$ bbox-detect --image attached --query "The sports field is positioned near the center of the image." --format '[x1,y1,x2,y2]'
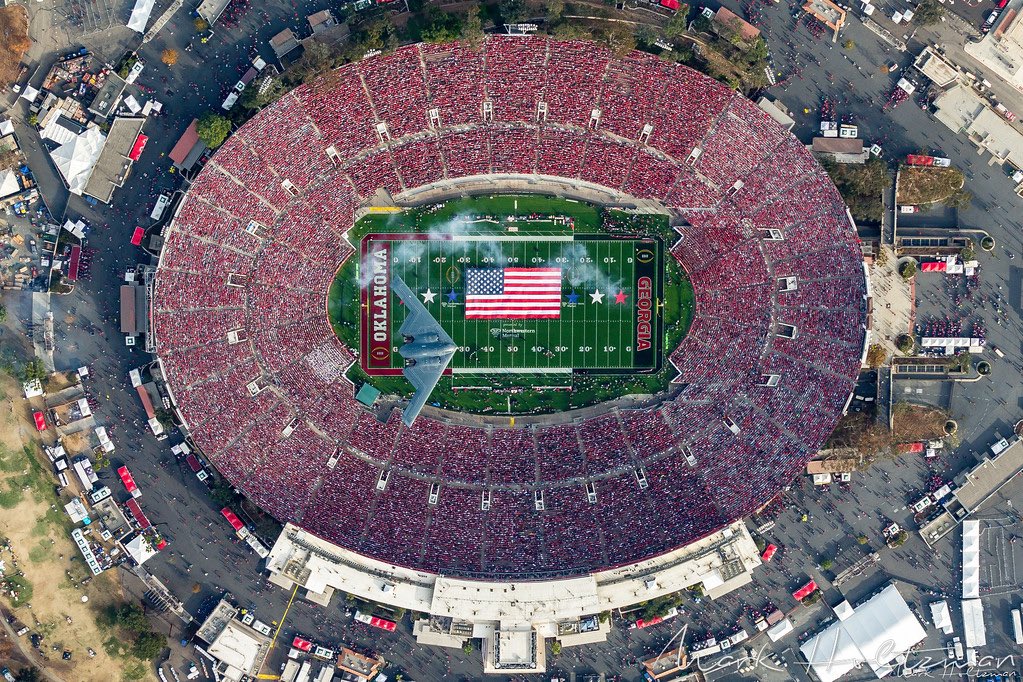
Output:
[328,194,693,414]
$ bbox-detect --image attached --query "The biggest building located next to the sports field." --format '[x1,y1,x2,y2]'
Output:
[266,517,762,673]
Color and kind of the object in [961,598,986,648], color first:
white tent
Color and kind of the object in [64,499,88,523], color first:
white tent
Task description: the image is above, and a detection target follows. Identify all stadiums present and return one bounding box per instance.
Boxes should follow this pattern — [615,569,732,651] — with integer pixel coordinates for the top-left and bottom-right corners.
[150,35,870,575]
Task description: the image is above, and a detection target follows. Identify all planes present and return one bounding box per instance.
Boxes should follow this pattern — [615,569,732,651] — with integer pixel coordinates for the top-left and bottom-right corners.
[392,275,459,427]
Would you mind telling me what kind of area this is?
sports ground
